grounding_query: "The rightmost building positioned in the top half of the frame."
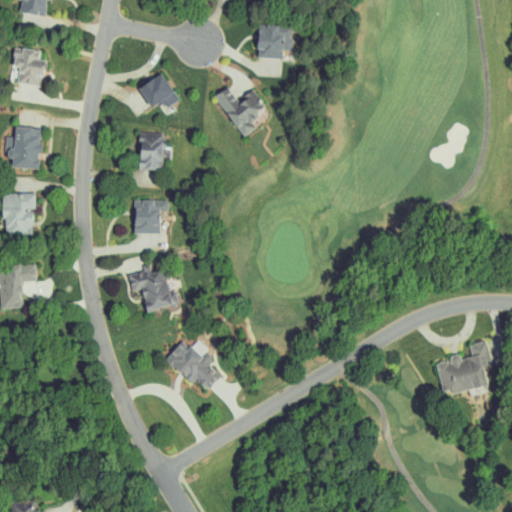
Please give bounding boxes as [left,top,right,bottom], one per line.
[258,24,295,63]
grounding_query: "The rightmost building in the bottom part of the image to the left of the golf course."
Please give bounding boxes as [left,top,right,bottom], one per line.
[167,340,221,389]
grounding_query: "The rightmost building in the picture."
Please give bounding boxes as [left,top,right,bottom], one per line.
[438,341,493,395]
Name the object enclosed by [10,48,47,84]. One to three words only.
house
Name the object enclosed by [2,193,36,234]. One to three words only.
house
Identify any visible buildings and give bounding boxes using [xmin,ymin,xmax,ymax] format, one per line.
[138,72,180,112]
[12,502,40,512]
[134,200,175,234]
[2,193,36,234]
[216,87,270,136]
[6,126,42,168]
[0,264,37,310]
[438,341,493,395]
[258,24,295,63]
[10,48,47,84]
[139,132,173,171]
[167,340,221,389]
[129,265,182,313]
